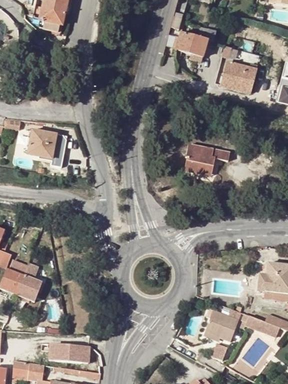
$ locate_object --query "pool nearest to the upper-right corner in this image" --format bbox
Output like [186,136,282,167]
[266,8,288,26]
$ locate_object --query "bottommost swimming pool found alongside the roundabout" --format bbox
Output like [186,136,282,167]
[184,315,204,337]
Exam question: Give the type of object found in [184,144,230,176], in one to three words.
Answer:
house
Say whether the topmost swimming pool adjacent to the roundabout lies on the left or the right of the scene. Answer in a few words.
right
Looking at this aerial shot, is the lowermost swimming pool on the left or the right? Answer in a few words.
right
